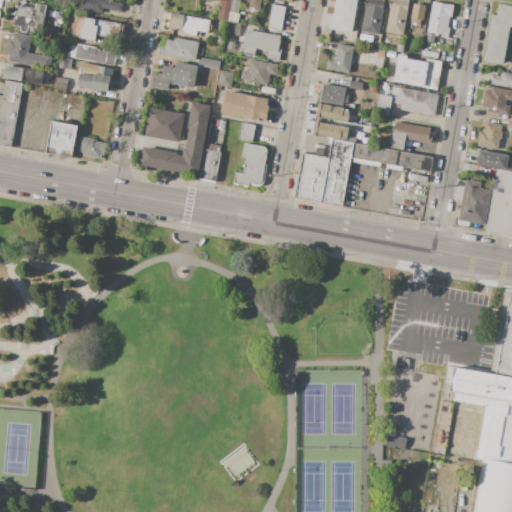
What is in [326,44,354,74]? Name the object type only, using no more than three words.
house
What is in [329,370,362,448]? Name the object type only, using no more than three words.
tennis court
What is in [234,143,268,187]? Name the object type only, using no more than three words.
building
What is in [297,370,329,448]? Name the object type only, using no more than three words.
tennis court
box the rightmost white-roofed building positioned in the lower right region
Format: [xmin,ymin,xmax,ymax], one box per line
[452,367,512,512]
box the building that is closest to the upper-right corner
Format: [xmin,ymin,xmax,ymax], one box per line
[483,4,512,65]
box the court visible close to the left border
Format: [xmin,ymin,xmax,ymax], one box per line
[0,407,42,488]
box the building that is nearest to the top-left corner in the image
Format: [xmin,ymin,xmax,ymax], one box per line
[14,3,48,34]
